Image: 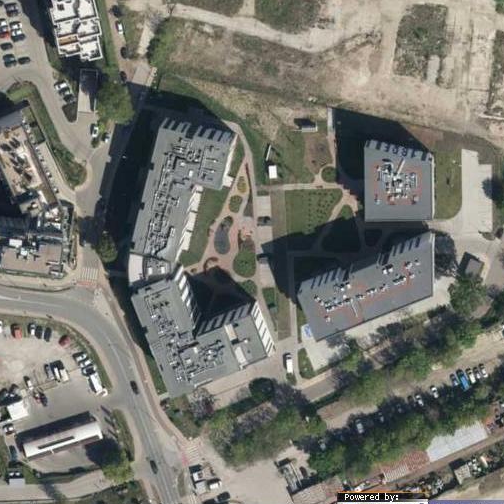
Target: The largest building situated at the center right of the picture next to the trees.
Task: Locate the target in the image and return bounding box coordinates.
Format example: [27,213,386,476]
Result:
[298,231,434,341]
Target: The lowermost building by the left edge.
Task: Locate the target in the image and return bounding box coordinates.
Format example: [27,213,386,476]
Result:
[23,419,102,458]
